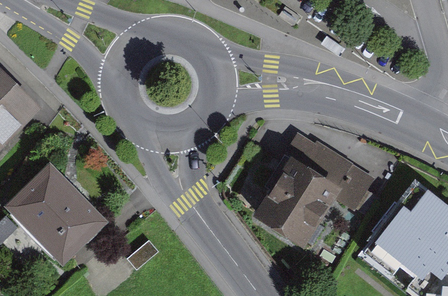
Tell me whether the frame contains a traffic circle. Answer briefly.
Yes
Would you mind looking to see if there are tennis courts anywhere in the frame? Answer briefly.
No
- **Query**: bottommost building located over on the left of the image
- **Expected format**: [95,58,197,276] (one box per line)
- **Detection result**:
[126,241,158,271]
